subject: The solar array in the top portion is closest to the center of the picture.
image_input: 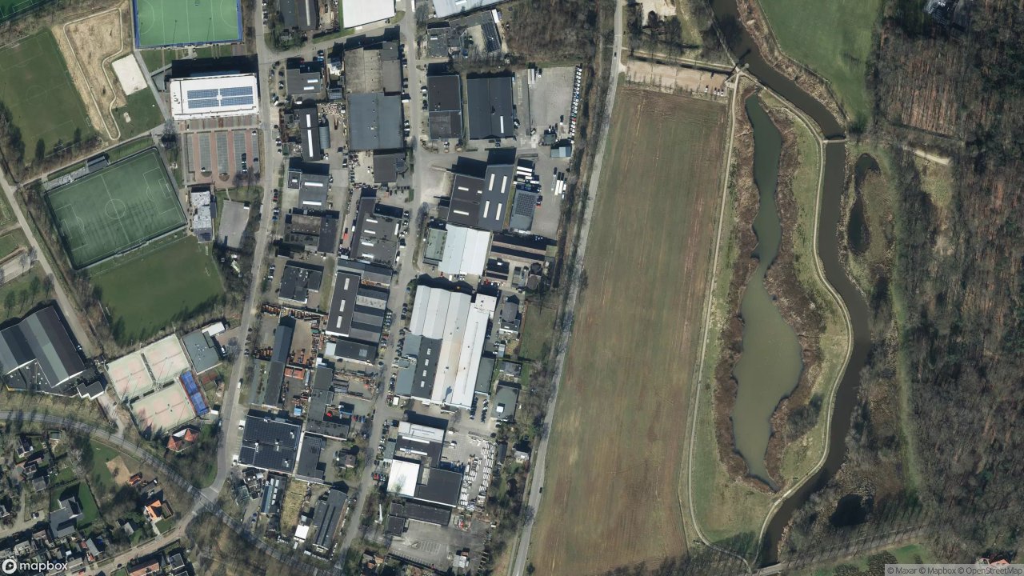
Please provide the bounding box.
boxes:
[515,194,536,216]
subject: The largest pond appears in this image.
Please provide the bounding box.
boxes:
[733,95,801,491]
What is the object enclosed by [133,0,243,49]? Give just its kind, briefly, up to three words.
sports field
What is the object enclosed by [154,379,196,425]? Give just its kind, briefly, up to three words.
tennis court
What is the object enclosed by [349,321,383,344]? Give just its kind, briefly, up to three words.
shed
